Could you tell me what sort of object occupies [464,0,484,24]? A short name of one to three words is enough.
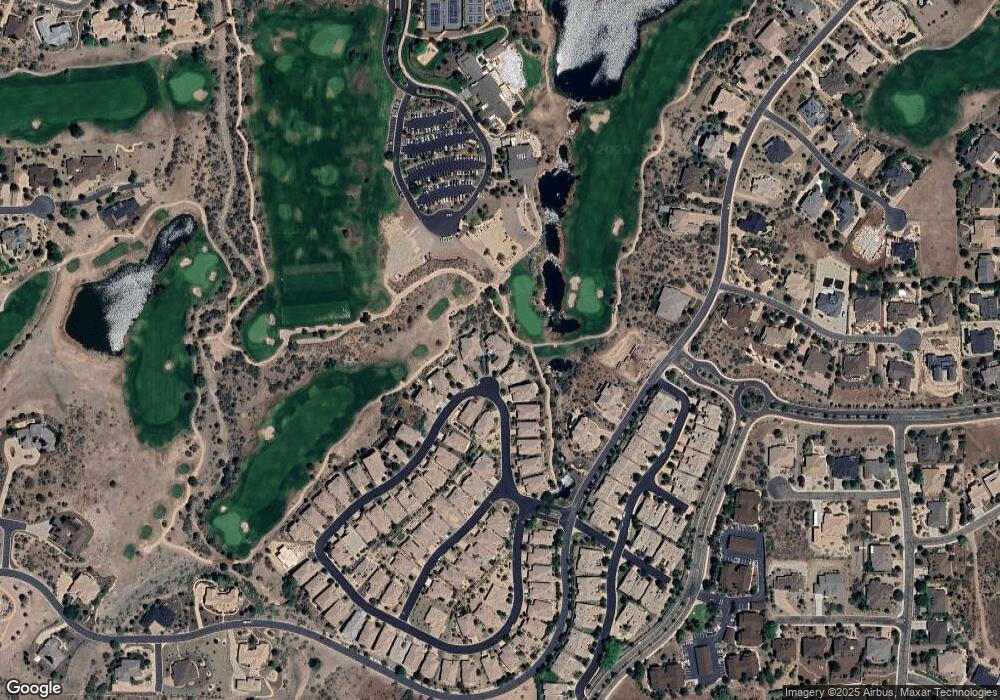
sports court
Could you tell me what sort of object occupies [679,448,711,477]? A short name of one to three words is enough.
house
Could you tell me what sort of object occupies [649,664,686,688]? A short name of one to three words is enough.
building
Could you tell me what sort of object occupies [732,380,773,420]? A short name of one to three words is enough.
roundabout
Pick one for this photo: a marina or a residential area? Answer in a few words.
residential area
